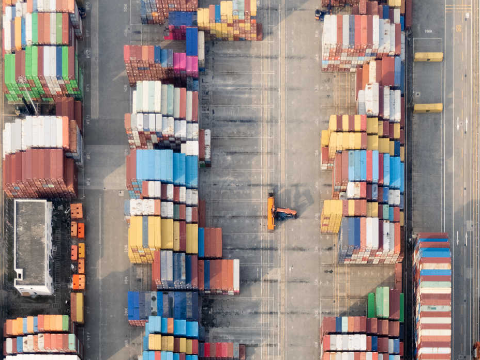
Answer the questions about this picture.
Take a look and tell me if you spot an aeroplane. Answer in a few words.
No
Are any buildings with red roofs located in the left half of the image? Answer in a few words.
No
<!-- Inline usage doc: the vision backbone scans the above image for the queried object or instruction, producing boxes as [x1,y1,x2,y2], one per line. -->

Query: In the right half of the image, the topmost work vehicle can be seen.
[312,0,329,21]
